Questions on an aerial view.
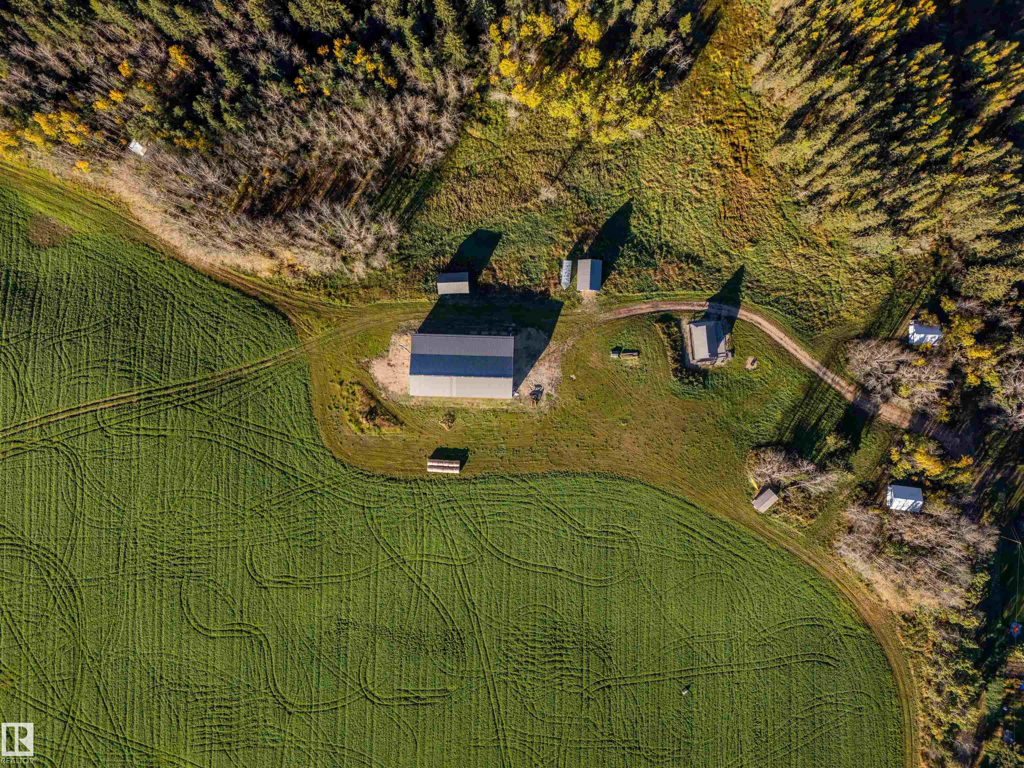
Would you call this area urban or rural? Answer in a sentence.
From above, the setting appears rural.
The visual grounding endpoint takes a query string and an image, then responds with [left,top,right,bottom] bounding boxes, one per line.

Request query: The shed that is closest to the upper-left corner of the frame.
[437,272,469,294]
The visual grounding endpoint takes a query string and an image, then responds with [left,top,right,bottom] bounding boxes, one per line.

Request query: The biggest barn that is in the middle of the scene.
[409,333,514,398]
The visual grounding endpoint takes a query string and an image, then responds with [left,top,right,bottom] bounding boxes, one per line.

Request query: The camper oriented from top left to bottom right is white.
[129,140,151,158]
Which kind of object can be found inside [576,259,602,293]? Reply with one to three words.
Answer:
shed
